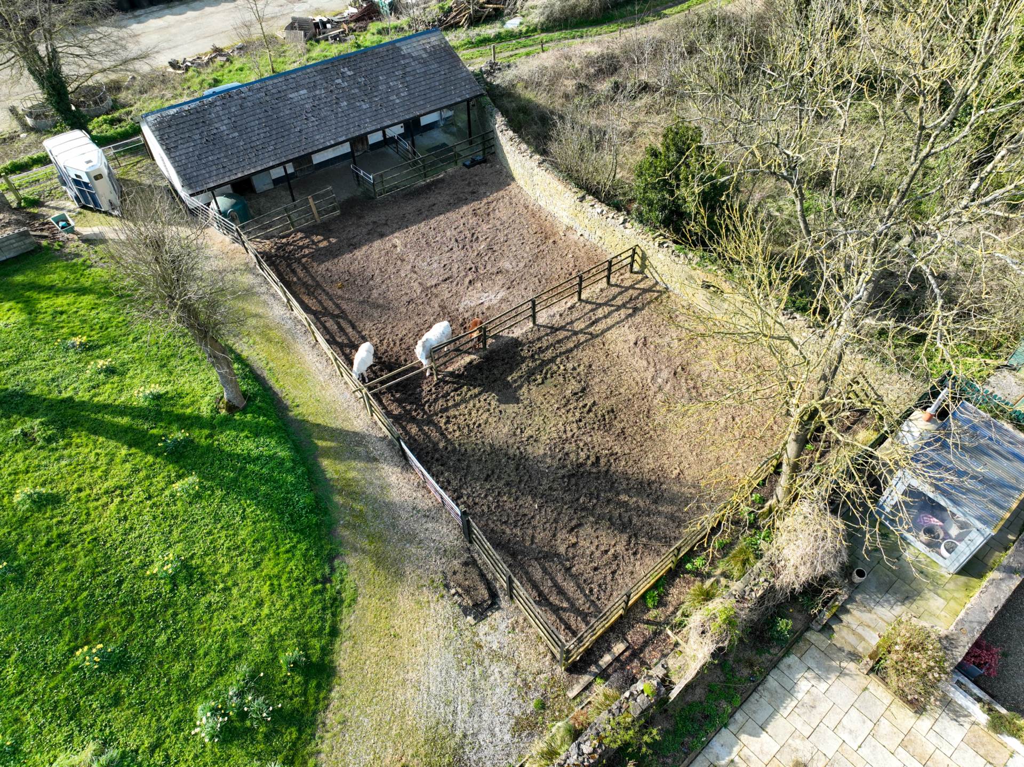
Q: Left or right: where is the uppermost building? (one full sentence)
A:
You can find the uppermost building on the left side of the picture.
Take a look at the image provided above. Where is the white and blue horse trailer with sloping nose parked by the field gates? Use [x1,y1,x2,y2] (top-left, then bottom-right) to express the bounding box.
[46,130,129,219]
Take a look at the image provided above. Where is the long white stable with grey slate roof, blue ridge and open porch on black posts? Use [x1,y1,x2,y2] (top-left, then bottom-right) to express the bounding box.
[129,22,482,236]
